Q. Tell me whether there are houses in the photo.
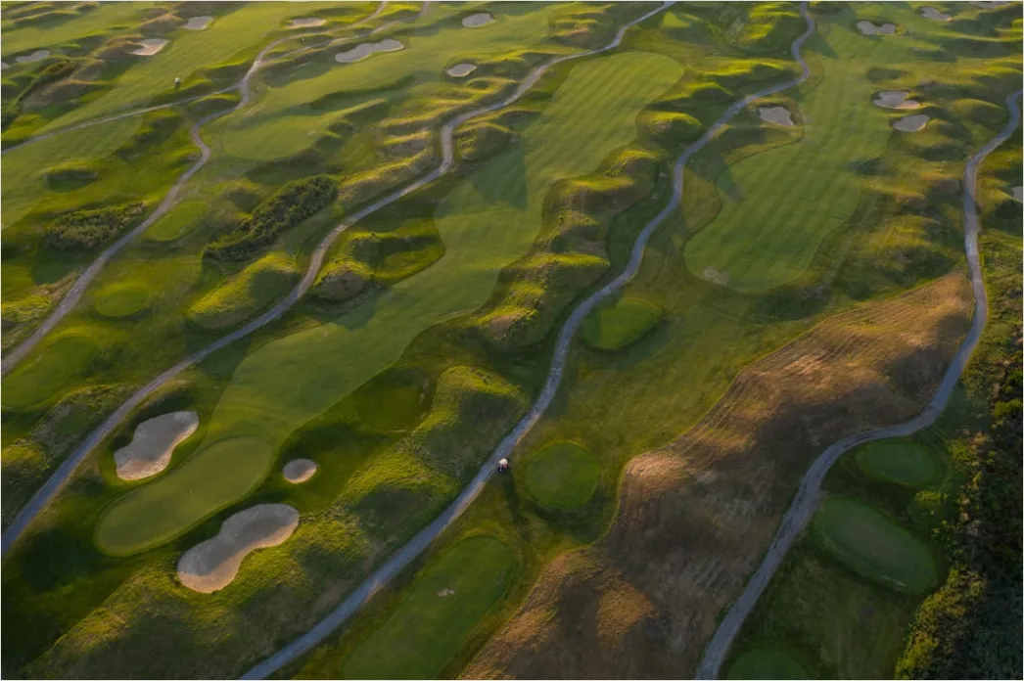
No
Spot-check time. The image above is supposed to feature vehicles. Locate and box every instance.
[173,78,181,86]
[497,461,509,476]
